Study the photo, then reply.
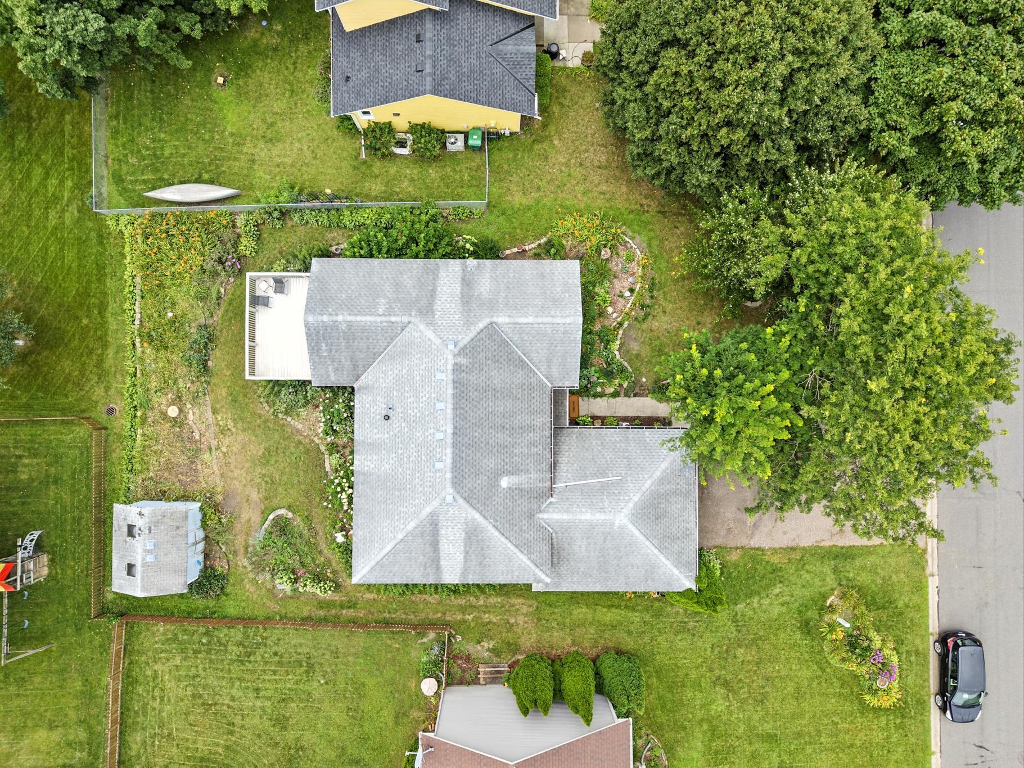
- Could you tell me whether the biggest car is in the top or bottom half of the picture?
bottom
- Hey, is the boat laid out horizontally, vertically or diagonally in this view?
horizontally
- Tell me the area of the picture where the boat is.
top left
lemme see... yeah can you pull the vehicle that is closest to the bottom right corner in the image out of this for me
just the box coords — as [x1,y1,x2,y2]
[935,633,990,723]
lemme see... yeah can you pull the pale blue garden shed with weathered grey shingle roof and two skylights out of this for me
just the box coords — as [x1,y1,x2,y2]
[113,501,204,601]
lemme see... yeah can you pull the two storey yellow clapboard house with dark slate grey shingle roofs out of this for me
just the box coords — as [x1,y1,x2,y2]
[312,0,563,157]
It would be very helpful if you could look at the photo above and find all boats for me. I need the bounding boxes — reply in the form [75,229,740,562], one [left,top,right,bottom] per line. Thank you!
[140,183,241,204]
